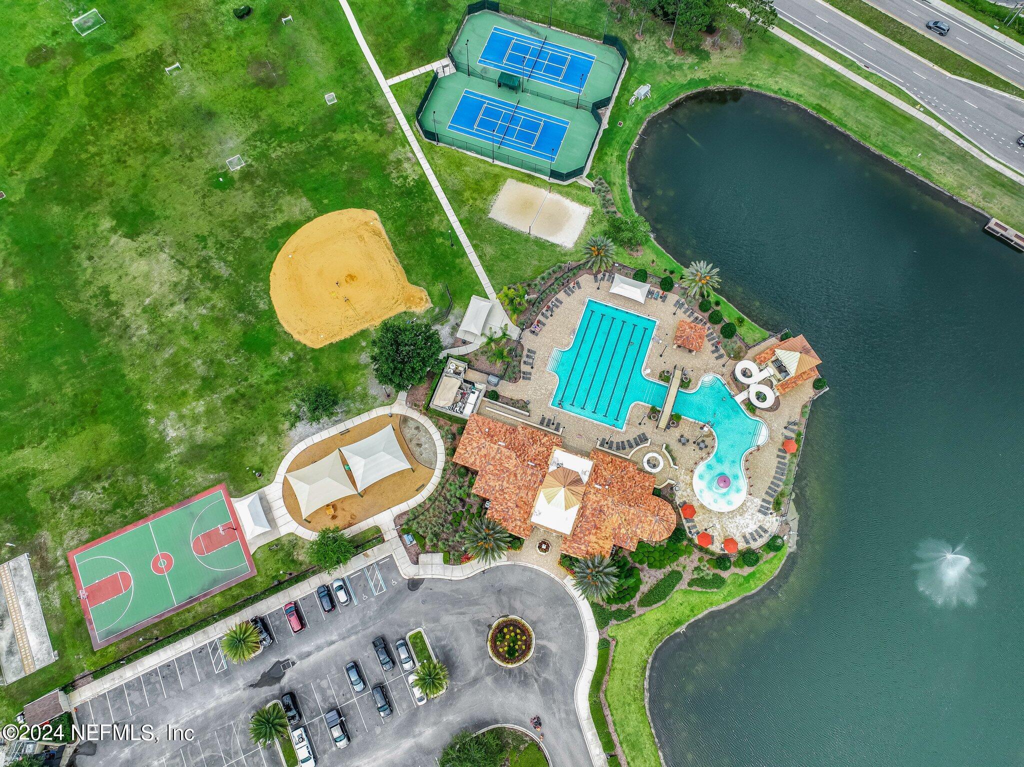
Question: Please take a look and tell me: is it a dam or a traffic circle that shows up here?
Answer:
traffic circle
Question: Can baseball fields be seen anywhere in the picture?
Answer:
Yes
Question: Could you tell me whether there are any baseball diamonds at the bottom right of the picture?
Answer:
No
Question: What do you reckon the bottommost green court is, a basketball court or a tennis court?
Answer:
basketball court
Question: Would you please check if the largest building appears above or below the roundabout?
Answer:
above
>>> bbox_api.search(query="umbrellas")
[782,440,797,454]
[680,505,696,519]
[697,532,712,548]
[723,538,739,553]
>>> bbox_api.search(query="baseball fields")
[270,207,433,349]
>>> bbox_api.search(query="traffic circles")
[486,613,537,670]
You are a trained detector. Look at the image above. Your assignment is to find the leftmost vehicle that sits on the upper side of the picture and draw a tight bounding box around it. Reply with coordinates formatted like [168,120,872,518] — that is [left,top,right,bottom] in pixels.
[926,22,950,36]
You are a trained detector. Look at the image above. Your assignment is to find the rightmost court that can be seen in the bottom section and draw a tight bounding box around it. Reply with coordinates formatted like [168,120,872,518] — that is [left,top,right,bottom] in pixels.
[67,483,256,650]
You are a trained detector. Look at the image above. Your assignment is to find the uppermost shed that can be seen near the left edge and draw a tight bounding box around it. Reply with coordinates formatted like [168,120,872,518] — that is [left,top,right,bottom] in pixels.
[23,689,71,729]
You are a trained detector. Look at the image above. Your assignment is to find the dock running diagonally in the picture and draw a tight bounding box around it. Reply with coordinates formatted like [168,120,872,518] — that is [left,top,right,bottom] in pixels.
[983,216,1024,253]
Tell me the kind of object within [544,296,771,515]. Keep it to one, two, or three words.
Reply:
swimming pool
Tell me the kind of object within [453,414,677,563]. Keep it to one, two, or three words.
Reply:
building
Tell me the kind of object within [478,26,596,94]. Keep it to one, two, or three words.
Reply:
tennis court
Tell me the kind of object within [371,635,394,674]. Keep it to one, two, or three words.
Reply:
truck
